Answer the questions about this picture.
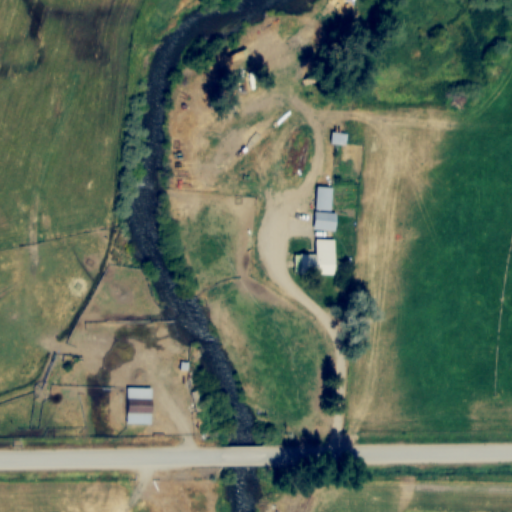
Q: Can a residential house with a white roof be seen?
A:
Yes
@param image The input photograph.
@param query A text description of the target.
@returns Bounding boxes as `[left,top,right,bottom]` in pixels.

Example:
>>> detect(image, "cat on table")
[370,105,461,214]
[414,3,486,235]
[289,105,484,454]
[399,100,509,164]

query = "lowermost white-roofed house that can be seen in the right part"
[296,240,338,275]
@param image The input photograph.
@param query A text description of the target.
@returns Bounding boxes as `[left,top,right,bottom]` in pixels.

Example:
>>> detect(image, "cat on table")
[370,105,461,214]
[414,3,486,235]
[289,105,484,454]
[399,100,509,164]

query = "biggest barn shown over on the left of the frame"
[126,387,153,425]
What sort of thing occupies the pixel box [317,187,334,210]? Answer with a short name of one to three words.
shed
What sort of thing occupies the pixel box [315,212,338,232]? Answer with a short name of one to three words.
shed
